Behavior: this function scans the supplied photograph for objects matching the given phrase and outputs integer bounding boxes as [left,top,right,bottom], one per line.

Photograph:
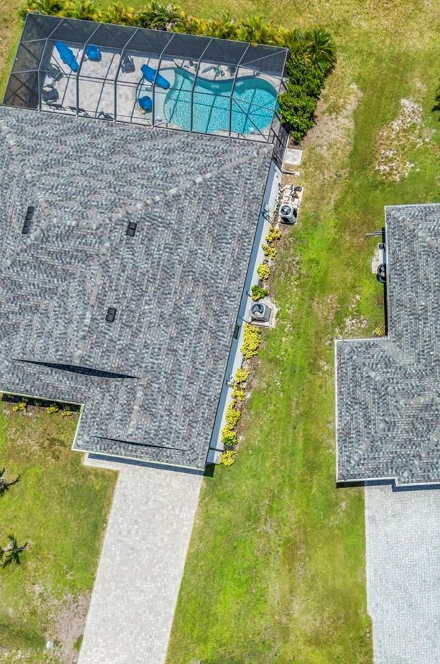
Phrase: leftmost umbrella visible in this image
[54,42,83,75]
